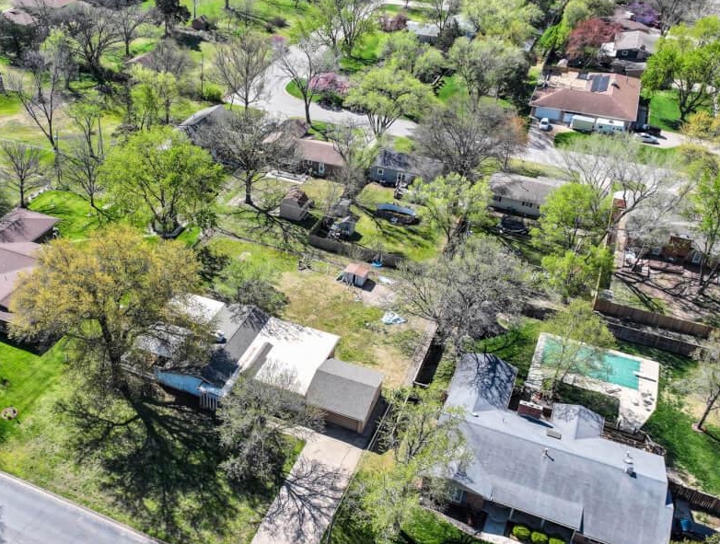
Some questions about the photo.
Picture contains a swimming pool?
Yes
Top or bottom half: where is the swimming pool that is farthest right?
bottom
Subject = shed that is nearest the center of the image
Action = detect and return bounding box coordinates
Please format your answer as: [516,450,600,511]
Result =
[343,262,369,285]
